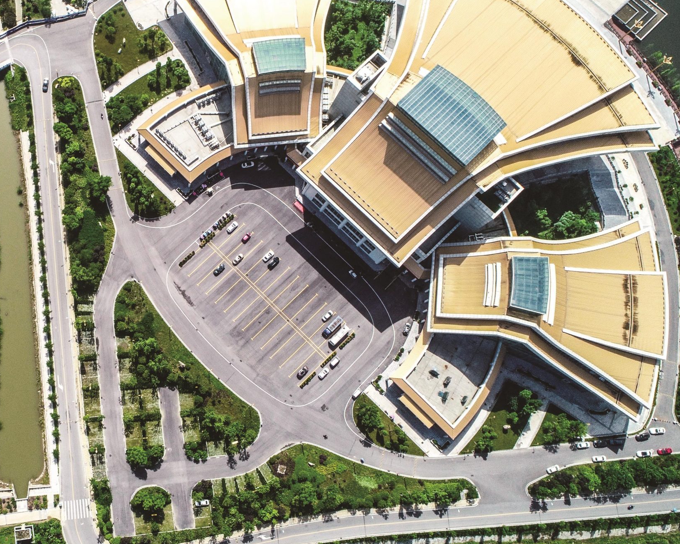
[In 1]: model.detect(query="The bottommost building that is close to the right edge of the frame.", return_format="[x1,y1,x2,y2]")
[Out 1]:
[420,217,670,421]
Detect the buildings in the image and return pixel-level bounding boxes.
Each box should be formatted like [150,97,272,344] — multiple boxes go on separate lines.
[420,217,670,421]
[283,0,661,285]
[172,0,333,159]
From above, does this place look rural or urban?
urban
